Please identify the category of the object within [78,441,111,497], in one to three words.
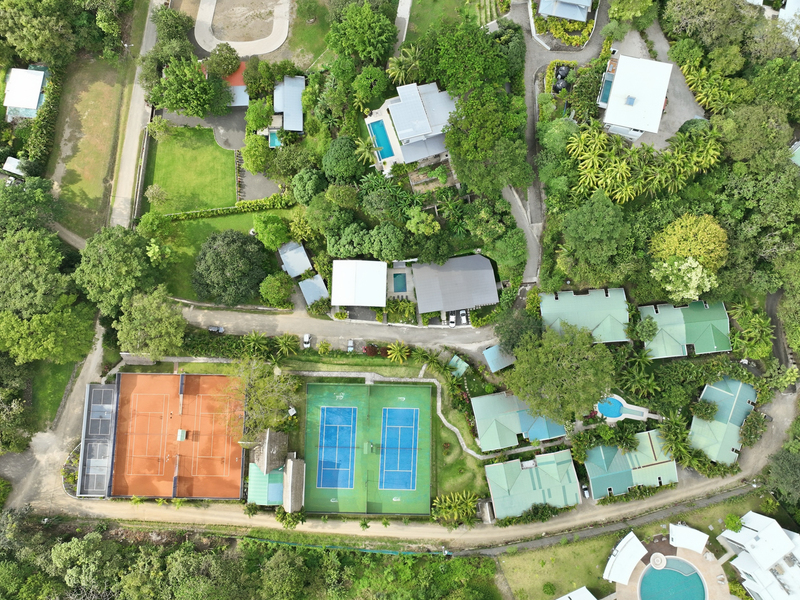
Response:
sports court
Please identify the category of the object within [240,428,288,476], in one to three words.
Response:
building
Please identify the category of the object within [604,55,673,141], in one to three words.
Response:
house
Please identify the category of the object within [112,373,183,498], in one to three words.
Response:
tennis court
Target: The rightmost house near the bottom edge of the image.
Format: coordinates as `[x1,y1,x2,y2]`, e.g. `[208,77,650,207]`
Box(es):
[716,507,800,600]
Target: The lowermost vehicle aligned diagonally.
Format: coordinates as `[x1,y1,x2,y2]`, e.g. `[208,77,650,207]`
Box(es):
[760,411,777,426]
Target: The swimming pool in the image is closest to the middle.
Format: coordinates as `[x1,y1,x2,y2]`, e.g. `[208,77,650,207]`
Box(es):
[388,266,416,301]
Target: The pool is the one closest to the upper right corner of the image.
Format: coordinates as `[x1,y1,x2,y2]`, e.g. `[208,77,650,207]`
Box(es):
[598,76,613,112]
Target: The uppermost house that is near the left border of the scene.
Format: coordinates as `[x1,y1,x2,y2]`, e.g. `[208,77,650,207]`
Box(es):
[3,65,54,123]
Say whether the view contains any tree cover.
Yes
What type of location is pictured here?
residential area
